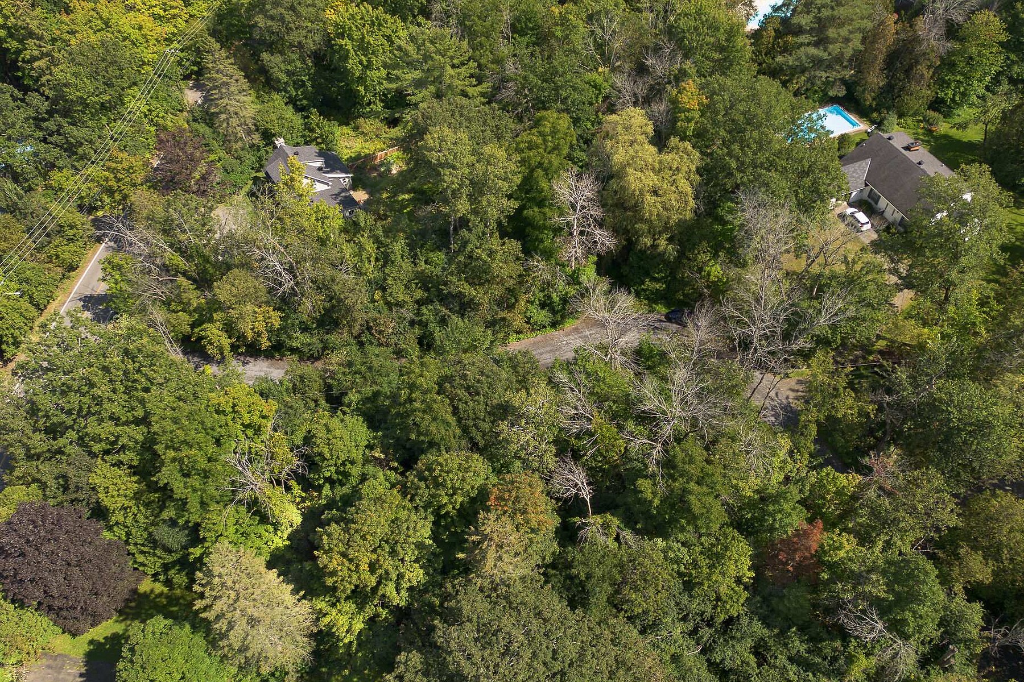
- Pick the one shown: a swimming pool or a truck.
swimming pool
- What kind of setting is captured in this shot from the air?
forest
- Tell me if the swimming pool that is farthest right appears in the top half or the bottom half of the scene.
top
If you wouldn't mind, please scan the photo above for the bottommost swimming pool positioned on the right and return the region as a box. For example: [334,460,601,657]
[816,101,869,142]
